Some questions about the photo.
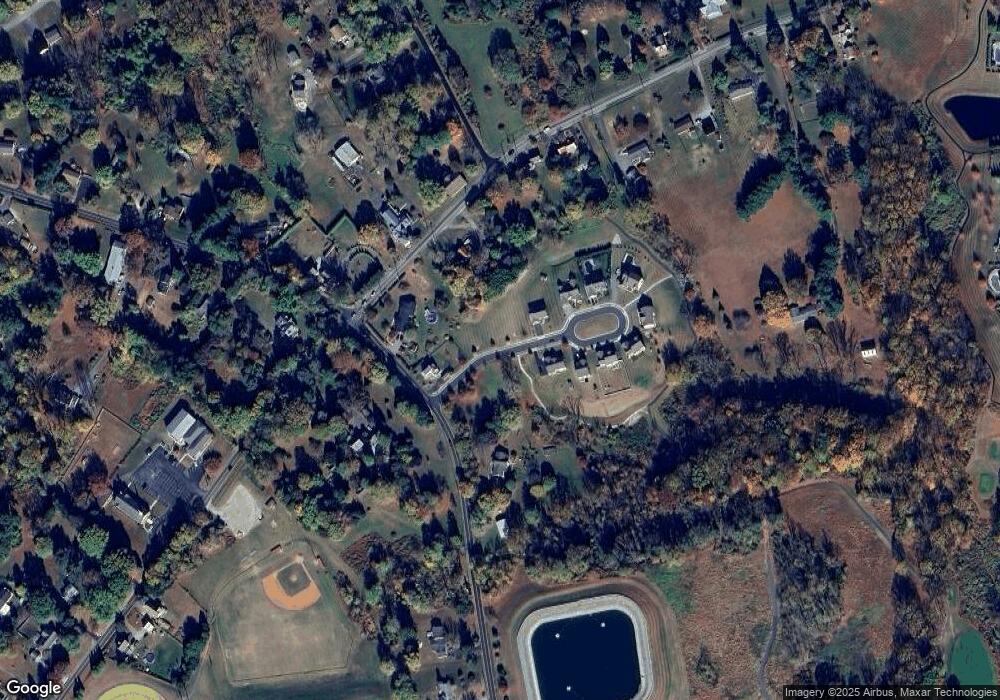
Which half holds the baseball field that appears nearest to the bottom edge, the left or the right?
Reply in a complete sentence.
You can find the baseball field that appears nearest to the bottom edge on the left side of the picture.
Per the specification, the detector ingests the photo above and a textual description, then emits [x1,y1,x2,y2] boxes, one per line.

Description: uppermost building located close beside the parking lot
[164,409,214,456]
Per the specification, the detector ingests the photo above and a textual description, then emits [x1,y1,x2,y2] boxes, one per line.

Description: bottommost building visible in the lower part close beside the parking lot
[112,489,151,522]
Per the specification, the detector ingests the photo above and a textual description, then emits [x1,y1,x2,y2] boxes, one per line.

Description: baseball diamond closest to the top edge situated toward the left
[217,539,351,681]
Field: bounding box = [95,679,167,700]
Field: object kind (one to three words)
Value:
baseball field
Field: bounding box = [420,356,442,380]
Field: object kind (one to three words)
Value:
house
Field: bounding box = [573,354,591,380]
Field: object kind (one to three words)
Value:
house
